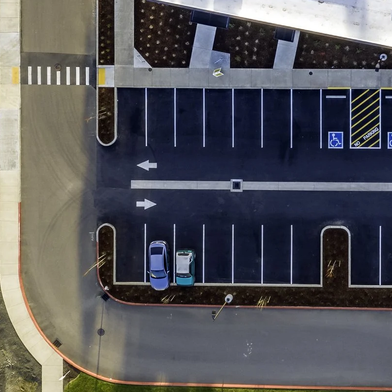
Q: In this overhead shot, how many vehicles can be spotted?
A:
two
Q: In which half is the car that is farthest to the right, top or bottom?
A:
bottom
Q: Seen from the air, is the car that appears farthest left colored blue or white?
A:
blue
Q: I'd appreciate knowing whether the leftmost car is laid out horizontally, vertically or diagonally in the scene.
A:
vertically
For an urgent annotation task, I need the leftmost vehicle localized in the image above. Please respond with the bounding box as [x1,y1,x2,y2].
[147,238,170,288]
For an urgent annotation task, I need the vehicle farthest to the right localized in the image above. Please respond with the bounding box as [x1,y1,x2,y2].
[175,247,197,285]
